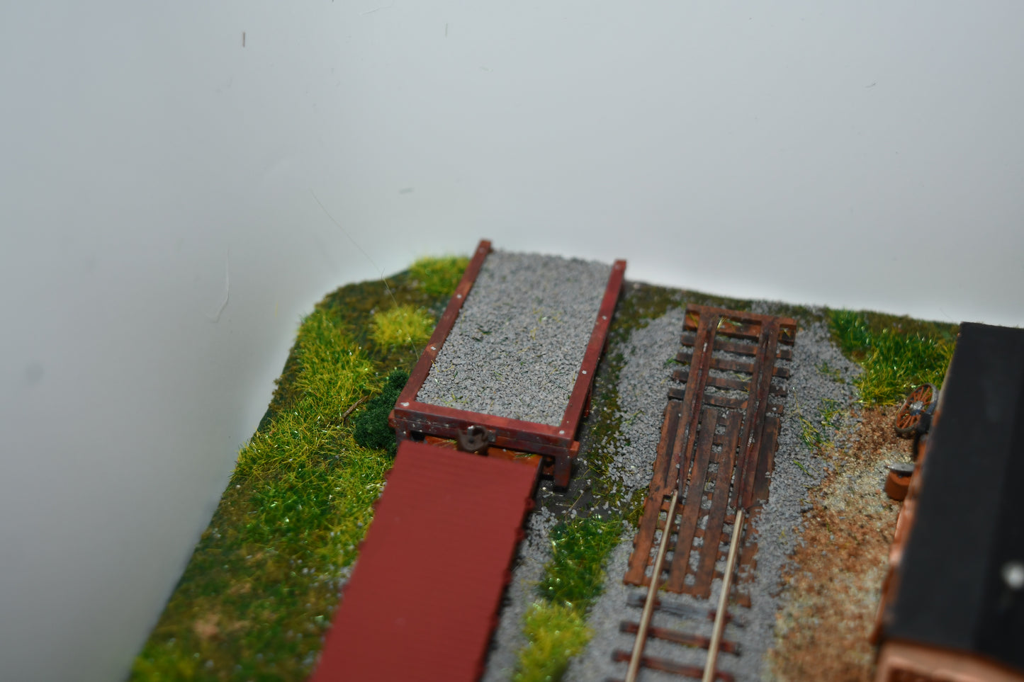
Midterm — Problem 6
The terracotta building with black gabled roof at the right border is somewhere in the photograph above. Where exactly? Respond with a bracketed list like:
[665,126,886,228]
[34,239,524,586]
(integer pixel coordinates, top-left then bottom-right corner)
[869,324,1024,682]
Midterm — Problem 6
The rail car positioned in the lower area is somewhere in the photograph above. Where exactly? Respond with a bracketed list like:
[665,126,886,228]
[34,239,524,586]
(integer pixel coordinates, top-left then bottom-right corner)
[310,425,540,682]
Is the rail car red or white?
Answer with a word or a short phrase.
red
